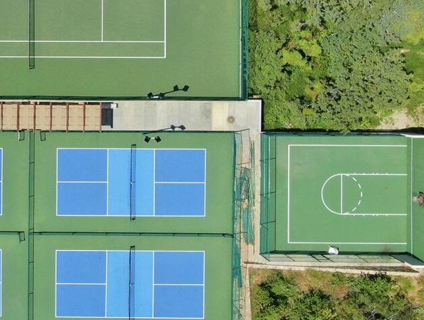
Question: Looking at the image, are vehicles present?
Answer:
No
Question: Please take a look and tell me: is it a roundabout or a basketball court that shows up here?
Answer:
basketball court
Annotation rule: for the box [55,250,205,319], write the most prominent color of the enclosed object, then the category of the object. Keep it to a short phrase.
blue sports court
